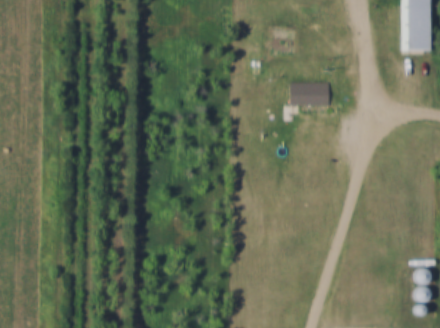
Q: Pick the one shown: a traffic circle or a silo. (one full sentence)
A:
It is a silo that can be seen here.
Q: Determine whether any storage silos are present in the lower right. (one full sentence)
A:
Yes, there is a storage silo in the lower right.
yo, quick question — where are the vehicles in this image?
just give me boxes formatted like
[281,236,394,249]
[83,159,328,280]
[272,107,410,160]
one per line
[422,62,428,76]
[404,56,412,76]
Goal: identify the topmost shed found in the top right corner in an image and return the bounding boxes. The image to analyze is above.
[400,0,432,54]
